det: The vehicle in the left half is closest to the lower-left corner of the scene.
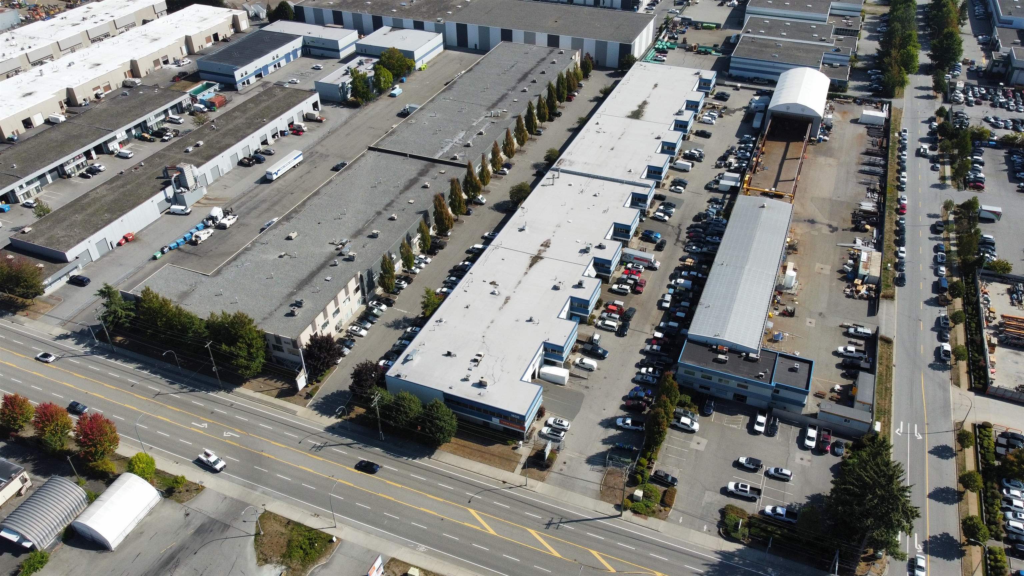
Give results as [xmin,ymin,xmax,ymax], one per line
[66,400,91,416]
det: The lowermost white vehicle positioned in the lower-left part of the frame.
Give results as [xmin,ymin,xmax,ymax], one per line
[197,450,228,471]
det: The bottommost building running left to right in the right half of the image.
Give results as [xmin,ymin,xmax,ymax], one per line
[819,398,874,432]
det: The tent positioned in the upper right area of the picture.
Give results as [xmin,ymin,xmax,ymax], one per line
[859,106,888,123]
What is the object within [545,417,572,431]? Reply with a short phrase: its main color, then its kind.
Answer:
white car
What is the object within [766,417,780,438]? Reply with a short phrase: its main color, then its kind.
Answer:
black car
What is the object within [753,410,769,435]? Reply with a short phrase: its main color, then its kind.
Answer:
white vehicle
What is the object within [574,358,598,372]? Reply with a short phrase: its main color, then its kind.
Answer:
white vehicle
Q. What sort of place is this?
industrial area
